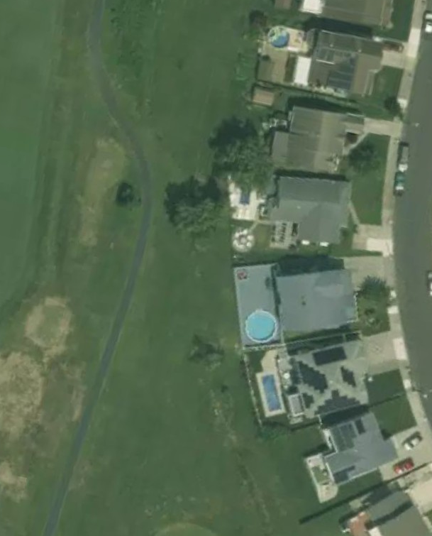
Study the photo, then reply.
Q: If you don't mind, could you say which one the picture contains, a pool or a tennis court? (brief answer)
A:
pool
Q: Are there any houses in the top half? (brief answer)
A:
Yes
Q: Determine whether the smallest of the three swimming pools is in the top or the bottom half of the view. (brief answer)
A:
top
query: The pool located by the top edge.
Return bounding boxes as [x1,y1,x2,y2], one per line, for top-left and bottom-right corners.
[268,26,290,48]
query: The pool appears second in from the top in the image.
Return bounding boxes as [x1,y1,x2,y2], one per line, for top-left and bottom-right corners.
[245,310,277,342]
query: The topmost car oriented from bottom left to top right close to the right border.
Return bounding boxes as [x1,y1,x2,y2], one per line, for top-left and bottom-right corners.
[402,432,424,449]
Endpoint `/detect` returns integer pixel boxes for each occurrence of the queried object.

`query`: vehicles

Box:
[394,171,404,194]
[402,432,424,449]
[392,458,415,474]
[382,42,404,52]
[398,141,410,170]
[424,11,432,33]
